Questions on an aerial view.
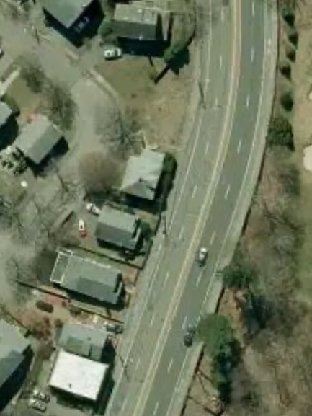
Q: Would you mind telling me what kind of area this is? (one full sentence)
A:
It's a residential area.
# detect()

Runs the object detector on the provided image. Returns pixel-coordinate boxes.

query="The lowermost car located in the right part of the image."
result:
[184,326,196,345]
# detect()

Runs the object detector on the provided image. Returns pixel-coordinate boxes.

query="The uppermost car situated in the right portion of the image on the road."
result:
[196,246,208,266]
